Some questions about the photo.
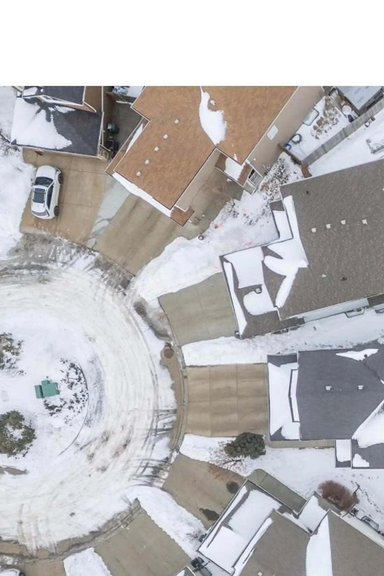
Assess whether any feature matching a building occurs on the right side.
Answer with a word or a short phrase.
Yes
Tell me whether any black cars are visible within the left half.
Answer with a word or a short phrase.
No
